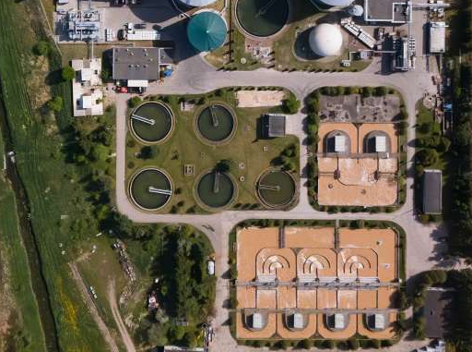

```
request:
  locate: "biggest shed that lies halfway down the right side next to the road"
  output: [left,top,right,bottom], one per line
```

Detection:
[421,168,442,214]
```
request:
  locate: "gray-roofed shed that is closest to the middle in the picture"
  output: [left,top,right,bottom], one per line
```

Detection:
[269,113,285,136]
